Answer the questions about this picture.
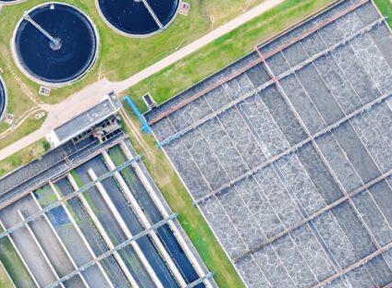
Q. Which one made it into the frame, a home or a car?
home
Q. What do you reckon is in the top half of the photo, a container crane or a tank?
tank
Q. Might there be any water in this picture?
Yes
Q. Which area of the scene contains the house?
left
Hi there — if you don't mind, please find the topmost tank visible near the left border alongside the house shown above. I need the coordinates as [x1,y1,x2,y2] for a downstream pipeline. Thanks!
[12,1,99,87]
